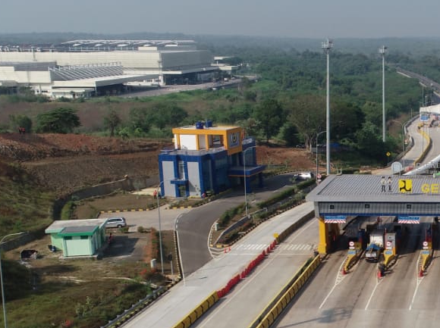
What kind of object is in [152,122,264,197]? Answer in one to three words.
building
